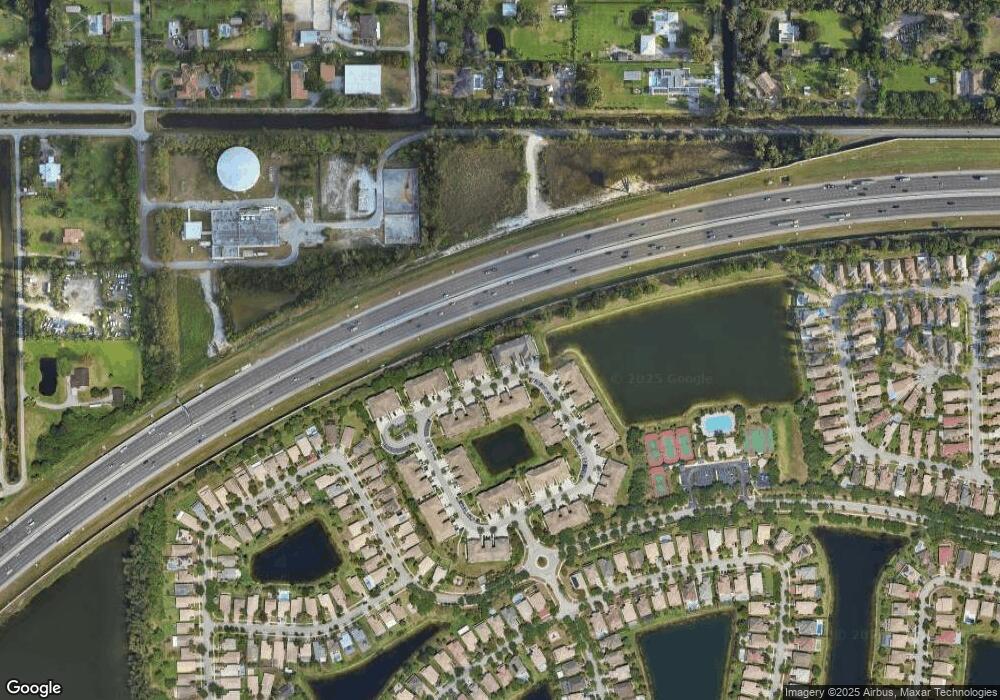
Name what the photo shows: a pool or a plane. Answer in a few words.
pool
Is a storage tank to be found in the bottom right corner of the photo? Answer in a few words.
No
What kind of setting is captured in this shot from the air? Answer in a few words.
residential area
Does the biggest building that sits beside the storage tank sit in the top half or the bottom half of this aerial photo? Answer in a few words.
top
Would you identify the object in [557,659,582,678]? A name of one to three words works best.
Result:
house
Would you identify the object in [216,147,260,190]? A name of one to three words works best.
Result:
storage tank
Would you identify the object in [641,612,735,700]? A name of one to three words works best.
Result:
pond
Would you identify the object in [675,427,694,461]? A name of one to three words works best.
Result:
tennis court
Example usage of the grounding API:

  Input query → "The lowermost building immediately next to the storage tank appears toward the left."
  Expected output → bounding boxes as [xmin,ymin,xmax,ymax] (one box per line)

[211,210,278,258]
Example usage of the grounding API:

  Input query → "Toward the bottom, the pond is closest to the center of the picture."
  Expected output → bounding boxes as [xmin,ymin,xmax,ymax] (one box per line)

[476,424,533,474]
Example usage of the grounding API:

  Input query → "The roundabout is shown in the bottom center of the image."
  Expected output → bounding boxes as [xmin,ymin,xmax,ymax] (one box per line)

[527,548,556,576]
